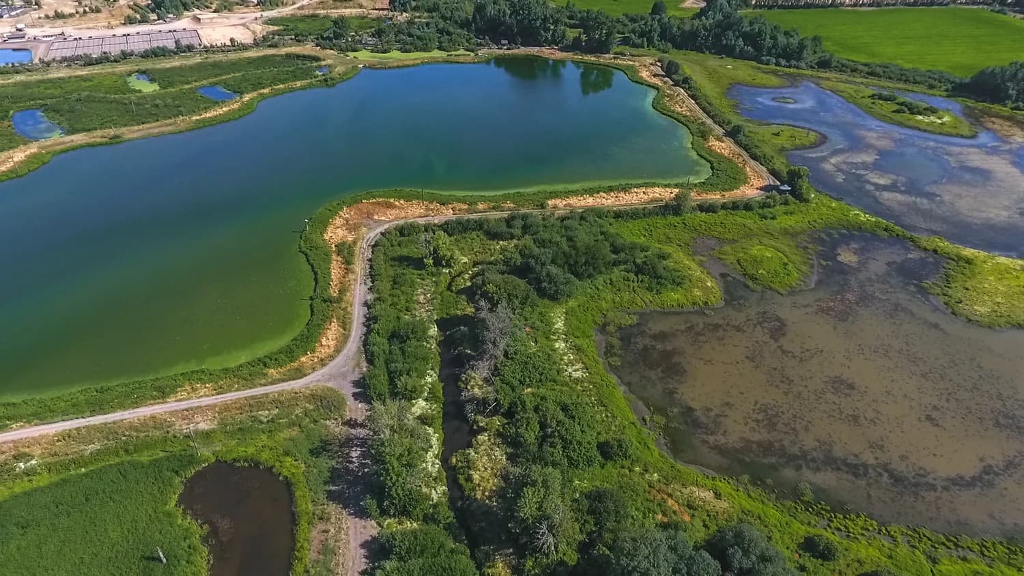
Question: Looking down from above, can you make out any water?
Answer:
Yes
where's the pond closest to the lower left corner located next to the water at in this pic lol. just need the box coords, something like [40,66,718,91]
[182,462,296,576]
